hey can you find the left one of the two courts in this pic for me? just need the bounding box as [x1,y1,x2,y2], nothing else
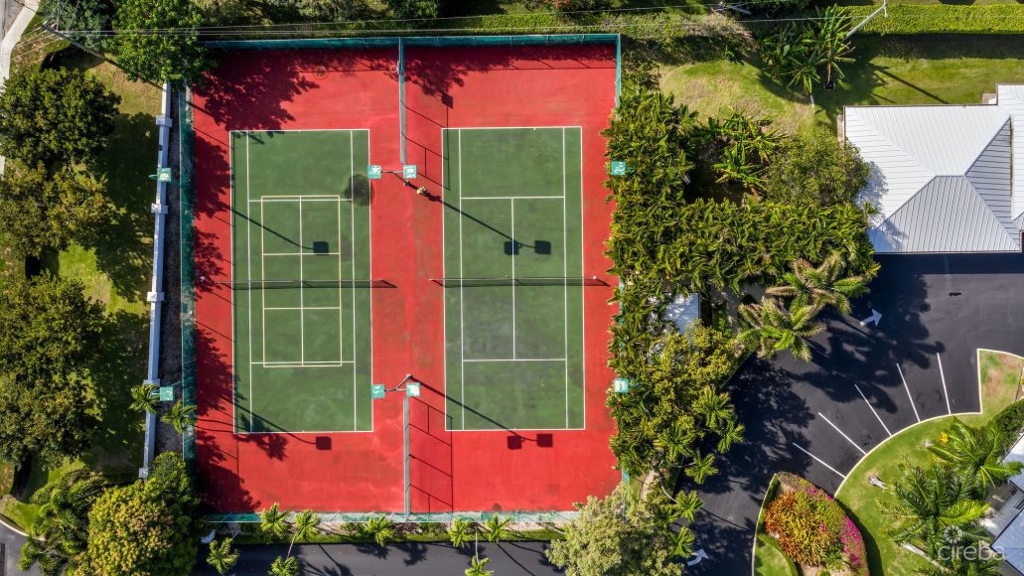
[193,47,415,513]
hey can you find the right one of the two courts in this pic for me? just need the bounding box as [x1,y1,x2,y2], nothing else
[412,44,623,513]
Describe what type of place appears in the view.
sports ground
